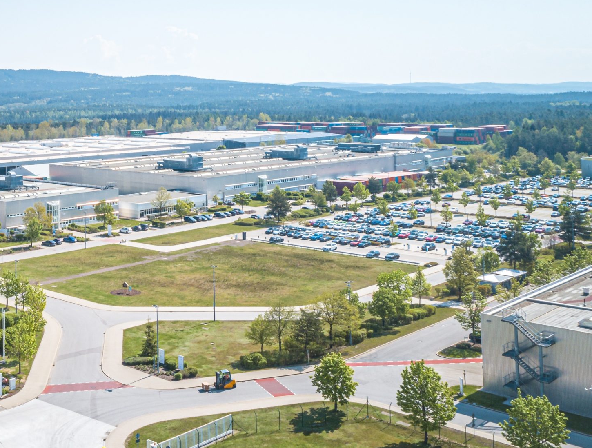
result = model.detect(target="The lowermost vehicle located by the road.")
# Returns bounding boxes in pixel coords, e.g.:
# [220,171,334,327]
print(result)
[213,369,237,392]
